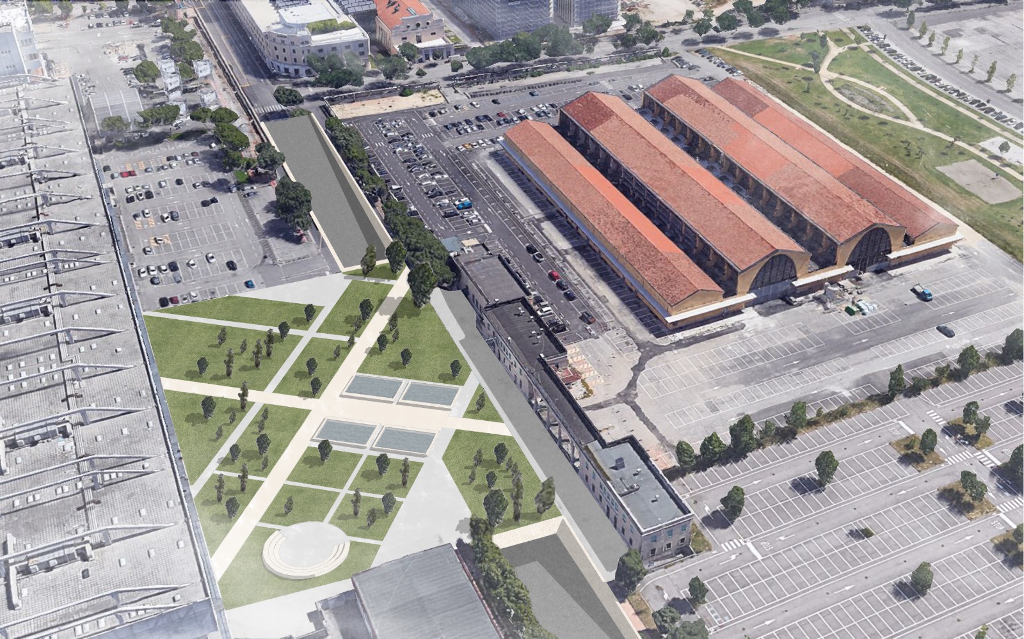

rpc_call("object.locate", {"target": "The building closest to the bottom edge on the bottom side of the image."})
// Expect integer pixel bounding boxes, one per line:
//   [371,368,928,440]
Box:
[289,596,363,639]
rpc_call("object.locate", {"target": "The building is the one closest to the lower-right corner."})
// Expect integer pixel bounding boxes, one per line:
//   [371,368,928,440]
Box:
[579,430,695,565]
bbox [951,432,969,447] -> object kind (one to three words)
car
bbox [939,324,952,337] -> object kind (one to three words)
vehicle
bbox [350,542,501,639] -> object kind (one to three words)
shed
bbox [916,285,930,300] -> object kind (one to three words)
vehicle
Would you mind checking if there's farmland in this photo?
No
